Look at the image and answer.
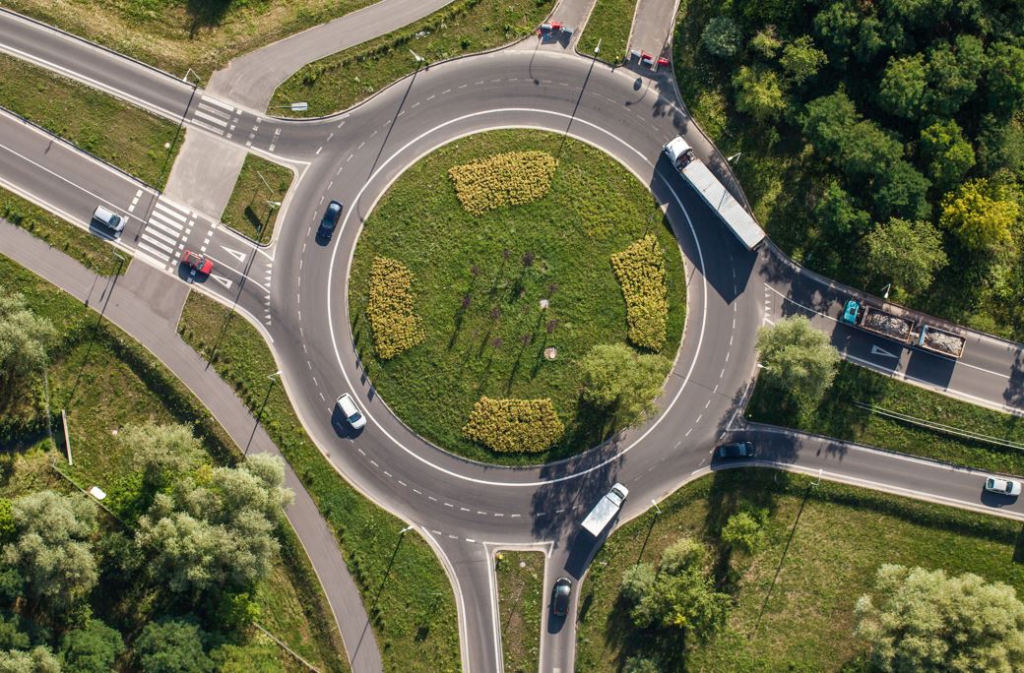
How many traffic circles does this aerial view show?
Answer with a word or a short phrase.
one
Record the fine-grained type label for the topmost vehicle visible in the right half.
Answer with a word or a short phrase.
truck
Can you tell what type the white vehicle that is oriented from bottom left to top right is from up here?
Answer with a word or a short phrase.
truck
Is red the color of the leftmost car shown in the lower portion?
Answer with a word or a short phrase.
No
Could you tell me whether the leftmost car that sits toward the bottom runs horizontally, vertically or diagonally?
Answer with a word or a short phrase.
diagonally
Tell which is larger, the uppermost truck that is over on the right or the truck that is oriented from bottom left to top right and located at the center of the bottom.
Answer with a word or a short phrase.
the uppermost truck that is over on the right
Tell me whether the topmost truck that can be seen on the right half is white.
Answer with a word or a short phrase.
Yes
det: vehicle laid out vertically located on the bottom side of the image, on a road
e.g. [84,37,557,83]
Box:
[554,579,571,615]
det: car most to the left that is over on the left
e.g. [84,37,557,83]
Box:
[91,205,126,231]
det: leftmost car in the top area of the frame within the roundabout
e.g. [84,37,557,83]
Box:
[319,200,343,241]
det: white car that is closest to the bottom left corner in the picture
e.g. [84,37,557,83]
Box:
[335,392,366,428]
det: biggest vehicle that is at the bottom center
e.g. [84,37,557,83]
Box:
[581,482,629,537]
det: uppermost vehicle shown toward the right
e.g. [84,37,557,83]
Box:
[662,135,766,250]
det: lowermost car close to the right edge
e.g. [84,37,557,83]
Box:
[986,477,1023,495]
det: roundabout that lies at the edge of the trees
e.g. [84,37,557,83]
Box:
[270,51,763,544]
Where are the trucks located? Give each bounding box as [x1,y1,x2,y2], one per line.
[581,482,629,537]
[840,300,967,358]
[662,135,766,250]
